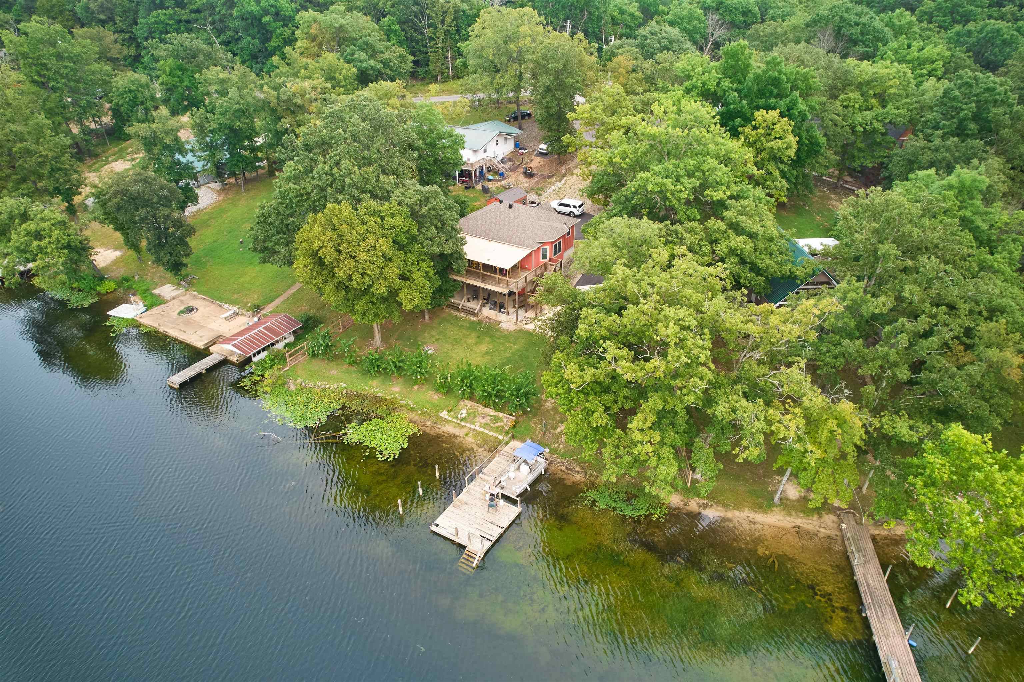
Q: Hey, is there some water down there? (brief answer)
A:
Yes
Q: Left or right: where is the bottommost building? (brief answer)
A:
left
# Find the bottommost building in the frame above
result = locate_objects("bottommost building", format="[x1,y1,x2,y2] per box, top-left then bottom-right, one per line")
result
[211,313,302,367]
